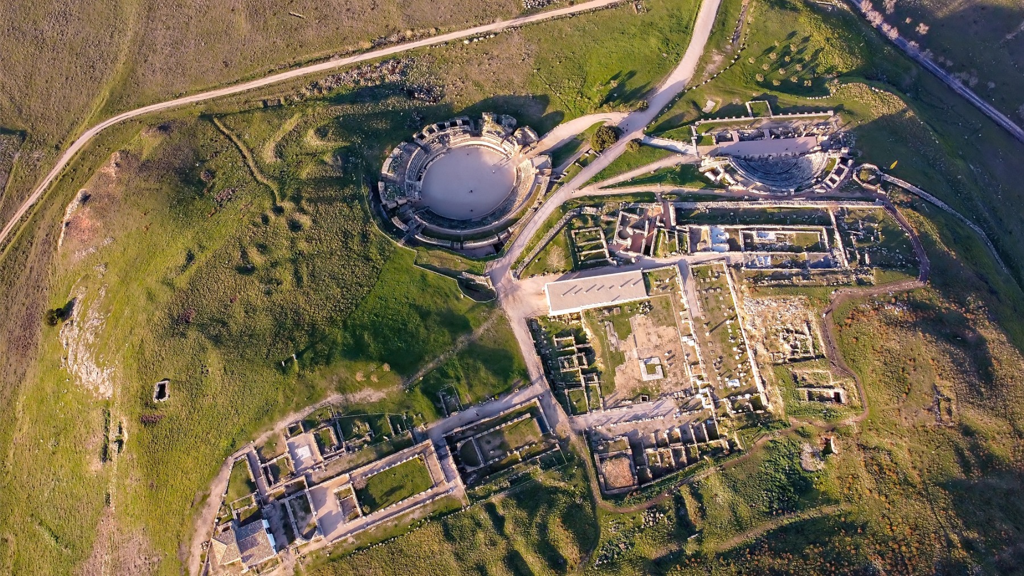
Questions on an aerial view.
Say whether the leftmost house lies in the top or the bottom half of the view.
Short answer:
bottom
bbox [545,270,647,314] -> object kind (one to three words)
building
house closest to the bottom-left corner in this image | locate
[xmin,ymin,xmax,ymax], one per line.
[212,519,282,567]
